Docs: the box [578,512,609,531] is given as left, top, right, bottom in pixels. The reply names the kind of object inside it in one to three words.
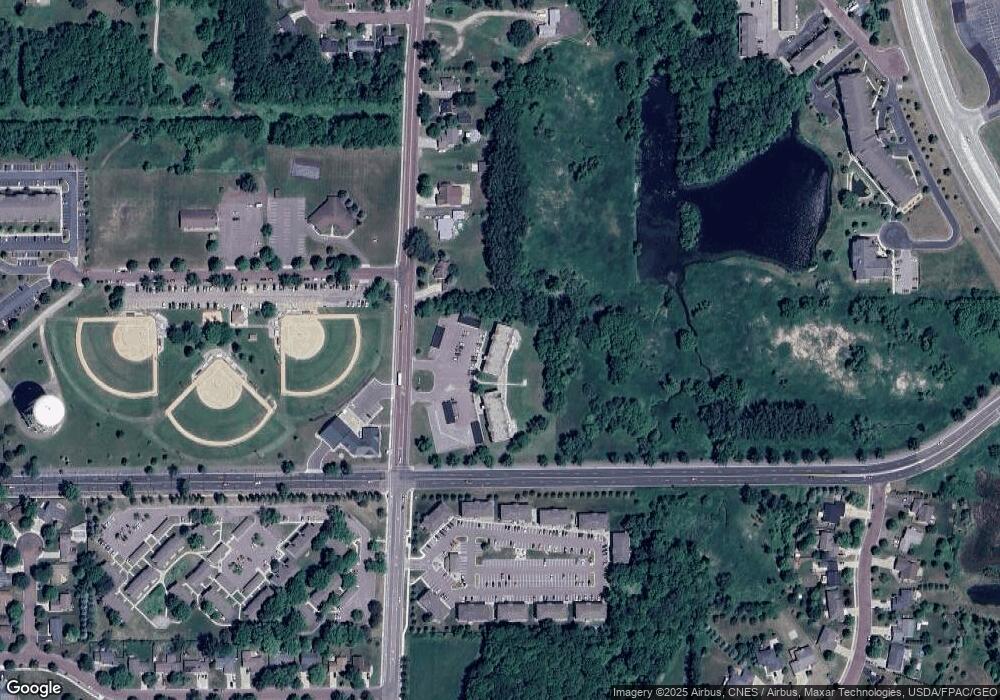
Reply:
building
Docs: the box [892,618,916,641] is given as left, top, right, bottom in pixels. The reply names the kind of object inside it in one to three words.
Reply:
house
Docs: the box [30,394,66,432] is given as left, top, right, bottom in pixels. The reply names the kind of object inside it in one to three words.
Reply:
water tower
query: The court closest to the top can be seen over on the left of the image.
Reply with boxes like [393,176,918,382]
[291,161,320,179]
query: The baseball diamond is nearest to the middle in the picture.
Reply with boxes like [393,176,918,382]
[277,310,360,395]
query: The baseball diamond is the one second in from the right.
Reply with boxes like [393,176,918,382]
[164,355,276,445]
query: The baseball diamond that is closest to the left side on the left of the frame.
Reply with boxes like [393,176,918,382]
[77,312,161,397]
